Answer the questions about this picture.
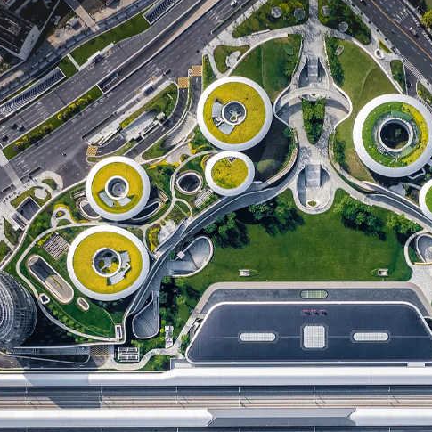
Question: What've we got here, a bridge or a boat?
bridge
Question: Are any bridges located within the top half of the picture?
Yes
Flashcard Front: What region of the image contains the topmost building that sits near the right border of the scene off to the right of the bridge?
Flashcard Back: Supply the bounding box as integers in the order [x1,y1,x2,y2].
[353,94,432,178]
